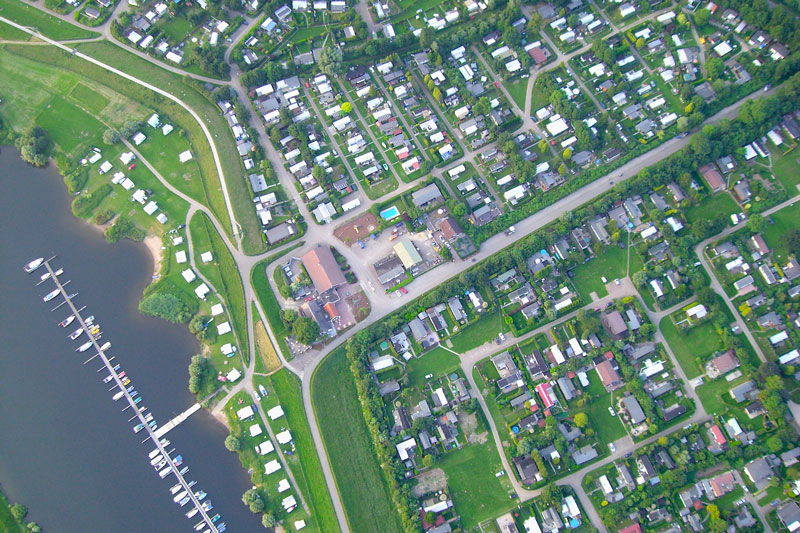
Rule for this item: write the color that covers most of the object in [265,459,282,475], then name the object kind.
white camper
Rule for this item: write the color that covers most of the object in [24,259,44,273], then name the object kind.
white boat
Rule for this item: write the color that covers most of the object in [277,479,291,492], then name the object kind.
white vehicle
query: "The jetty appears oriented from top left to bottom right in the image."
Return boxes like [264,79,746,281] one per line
[35,256,219,533]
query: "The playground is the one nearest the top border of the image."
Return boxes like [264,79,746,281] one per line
[334,211,380,245]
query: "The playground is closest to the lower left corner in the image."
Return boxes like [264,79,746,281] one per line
[346,289,370,321]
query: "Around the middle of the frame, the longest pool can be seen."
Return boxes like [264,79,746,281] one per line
[380,205,401,220]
